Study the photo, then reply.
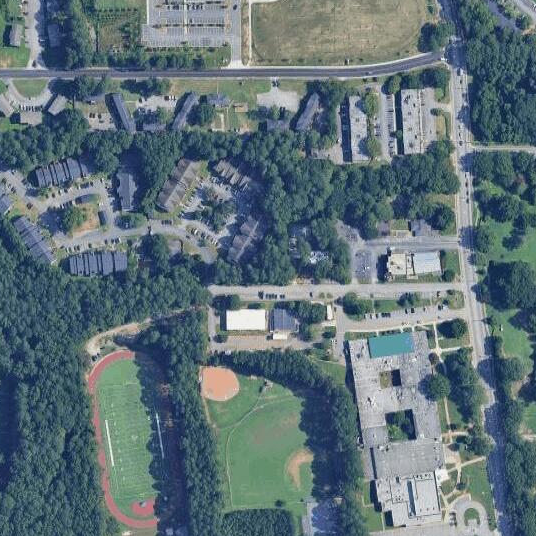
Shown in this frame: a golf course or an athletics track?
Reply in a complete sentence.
The one in the frame is an athletics track.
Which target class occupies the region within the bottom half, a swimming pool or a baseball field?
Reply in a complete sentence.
It is a baseball field that can be seen within the bottom half.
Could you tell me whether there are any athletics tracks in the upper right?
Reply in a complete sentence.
No, there is no athletics track in the upper right.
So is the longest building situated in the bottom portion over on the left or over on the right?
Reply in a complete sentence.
The longest building situated in the bottom portion sits on the right side.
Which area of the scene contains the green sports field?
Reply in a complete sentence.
The green sports field appears toward the bottom left of the photo.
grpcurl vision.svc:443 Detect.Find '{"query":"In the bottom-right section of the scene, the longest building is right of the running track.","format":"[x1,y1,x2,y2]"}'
[350,331,449,526]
